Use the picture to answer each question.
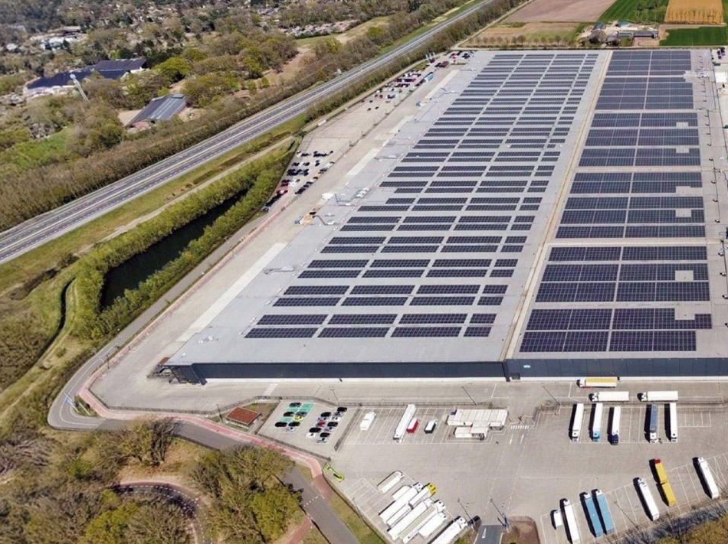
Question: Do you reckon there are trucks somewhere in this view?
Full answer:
Yes, the picture does show a truck.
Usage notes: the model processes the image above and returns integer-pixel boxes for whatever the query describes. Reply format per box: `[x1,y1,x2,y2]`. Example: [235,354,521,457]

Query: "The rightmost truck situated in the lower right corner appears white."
[697,458,718,502]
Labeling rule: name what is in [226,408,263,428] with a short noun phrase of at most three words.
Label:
building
